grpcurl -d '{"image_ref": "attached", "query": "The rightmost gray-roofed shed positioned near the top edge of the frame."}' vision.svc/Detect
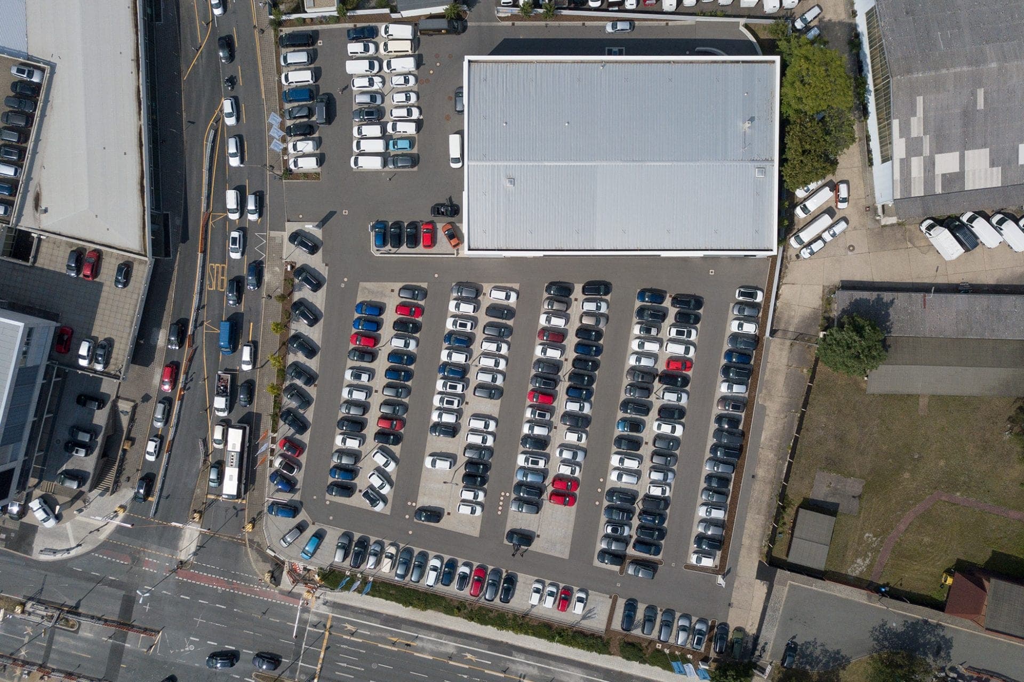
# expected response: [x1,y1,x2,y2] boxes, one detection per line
[853,0,1024,220]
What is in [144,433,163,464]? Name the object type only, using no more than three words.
car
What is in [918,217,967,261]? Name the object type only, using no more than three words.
truck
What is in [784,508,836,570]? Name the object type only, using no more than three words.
shed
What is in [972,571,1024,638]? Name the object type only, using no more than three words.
house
